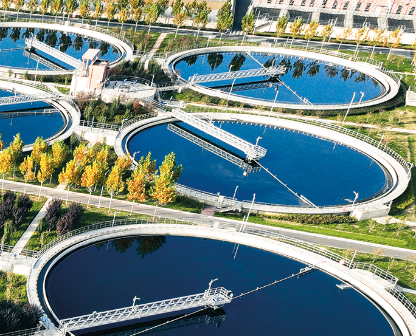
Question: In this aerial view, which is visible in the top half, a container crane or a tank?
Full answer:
The one visible in the top half is a tank.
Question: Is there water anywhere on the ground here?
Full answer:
Yes, water shows up in the scene.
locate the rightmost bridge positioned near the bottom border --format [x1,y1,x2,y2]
[46,285,239,336]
